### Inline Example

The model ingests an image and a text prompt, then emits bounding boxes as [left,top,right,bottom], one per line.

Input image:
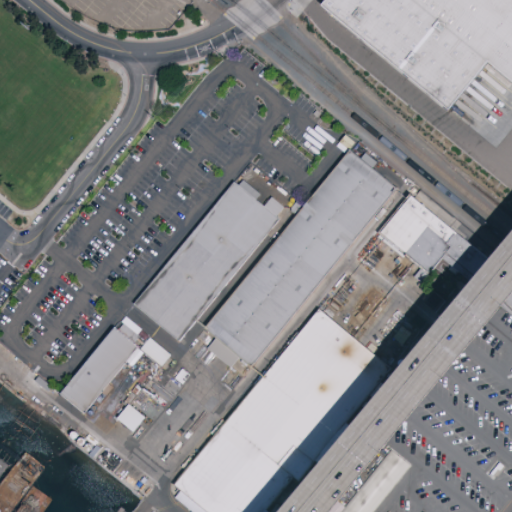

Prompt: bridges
[279,230,512,512]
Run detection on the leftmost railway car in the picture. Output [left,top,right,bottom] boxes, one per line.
[350,111,382,138]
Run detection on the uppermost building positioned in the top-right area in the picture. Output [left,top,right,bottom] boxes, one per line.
[320,0,512,110]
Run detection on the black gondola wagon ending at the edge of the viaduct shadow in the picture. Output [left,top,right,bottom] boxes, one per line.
[462,203,488,226]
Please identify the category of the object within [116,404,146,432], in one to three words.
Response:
shed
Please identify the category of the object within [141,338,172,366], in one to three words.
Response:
shed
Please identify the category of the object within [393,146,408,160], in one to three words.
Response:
rail car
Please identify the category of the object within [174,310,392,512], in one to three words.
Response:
warehouse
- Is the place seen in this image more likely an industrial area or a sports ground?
industrial area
